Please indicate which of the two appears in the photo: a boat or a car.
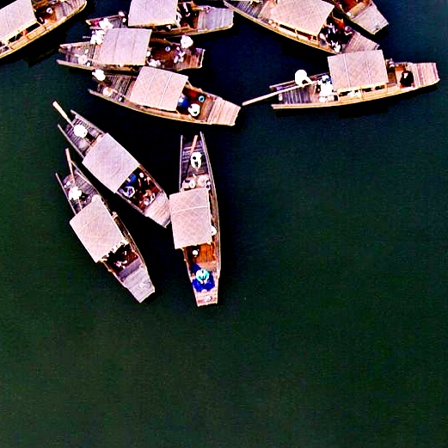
boat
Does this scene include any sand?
No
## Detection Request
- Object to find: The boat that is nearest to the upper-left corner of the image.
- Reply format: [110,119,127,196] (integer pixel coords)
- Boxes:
[0,0,87,65]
